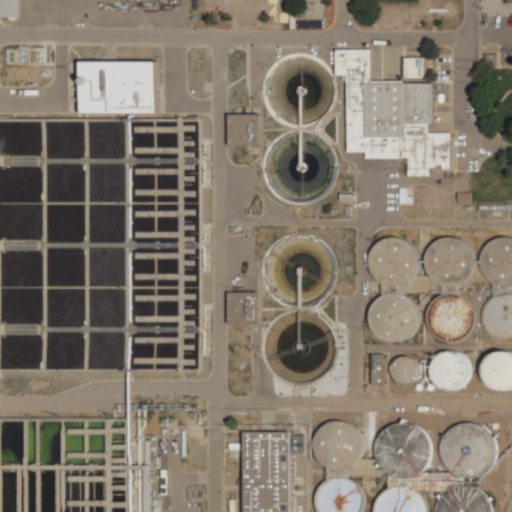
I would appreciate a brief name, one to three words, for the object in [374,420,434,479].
storage tank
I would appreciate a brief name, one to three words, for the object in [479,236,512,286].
storage tank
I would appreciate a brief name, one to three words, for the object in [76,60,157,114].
building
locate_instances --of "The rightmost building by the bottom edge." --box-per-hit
[388,476,467,492]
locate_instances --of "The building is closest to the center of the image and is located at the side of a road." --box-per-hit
[227,293,260,322]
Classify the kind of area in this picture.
industrial area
